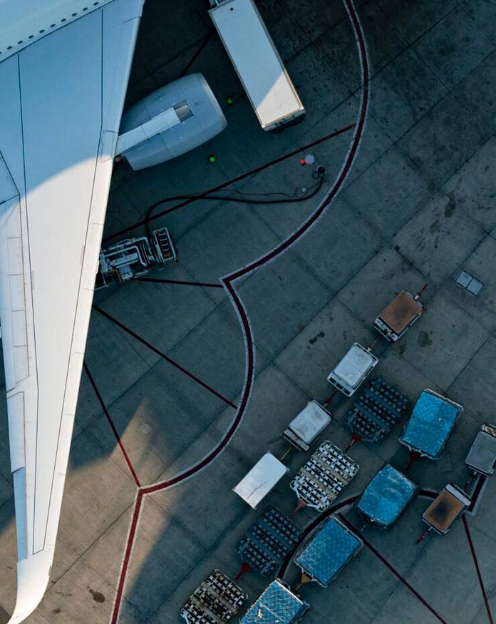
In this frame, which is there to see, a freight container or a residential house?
freight container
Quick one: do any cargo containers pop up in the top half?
No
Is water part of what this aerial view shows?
No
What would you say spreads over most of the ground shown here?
paved ground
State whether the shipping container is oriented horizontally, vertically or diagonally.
diagonally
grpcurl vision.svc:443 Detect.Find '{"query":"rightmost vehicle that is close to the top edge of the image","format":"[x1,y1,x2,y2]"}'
[205,0,305,136]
